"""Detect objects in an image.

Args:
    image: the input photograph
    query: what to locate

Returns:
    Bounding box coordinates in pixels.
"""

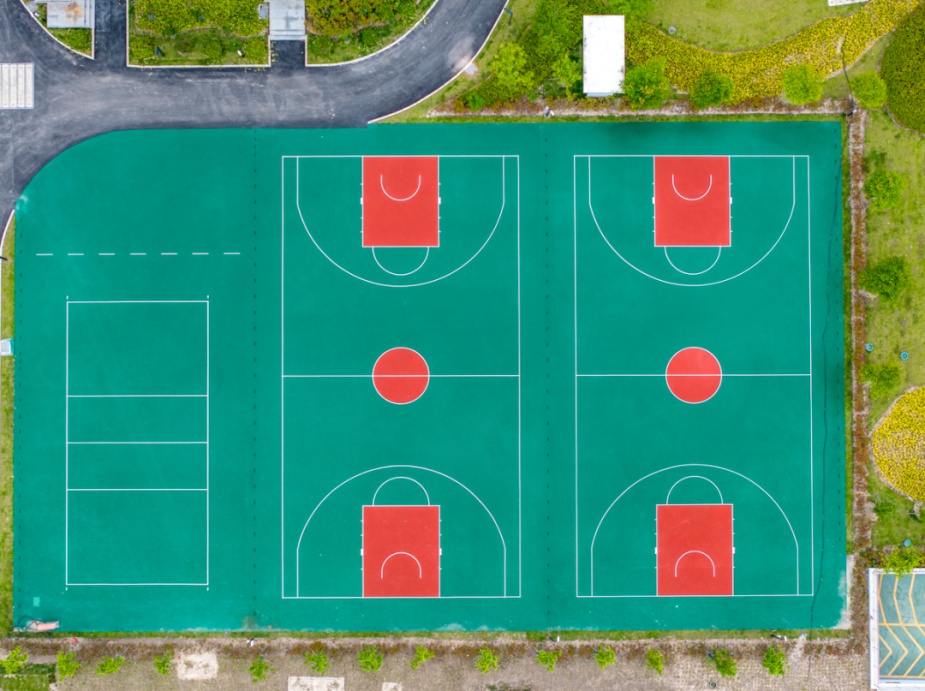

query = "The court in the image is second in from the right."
[283,156,520,598]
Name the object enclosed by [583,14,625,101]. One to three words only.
building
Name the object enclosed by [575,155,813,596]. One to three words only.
basketball court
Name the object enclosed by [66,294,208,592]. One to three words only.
sports court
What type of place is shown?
sports ground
